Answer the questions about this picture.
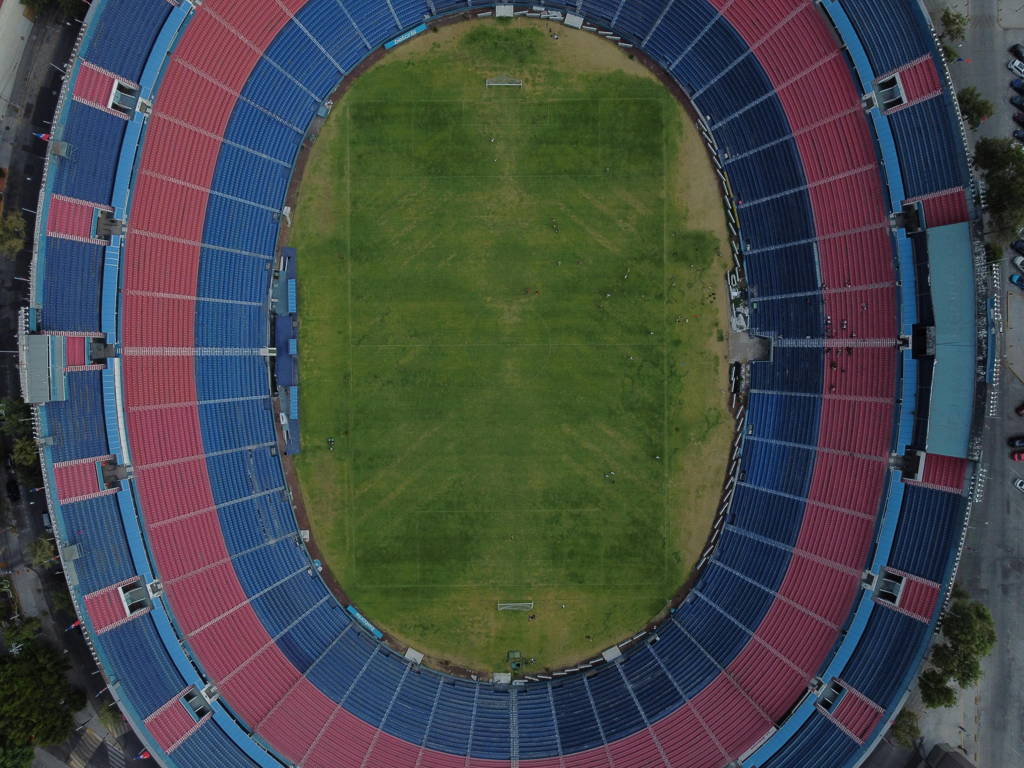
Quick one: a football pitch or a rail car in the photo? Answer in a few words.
football pitch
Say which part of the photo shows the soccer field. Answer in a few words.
center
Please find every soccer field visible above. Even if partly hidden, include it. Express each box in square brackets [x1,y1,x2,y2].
[288,16,734,675]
